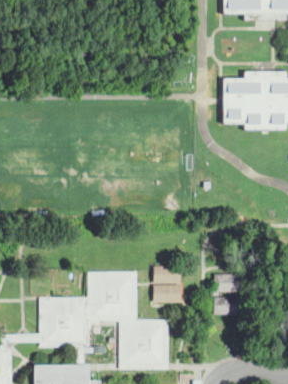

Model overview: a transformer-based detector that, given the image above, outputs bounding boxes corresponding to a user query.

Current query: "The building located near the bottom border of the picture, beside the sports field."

[38,272,168,370]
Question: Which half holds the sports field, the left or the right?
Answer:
left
